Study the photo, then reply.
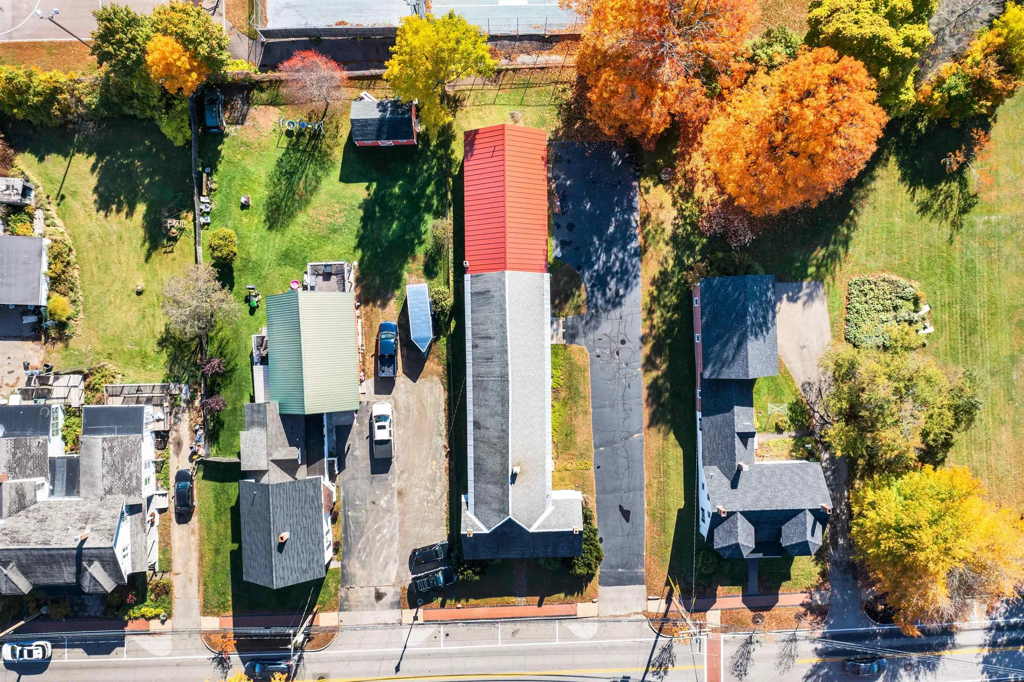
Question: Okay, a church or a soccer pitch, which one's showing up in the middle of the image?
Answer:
church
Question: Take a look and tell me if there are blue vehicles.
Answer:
Yes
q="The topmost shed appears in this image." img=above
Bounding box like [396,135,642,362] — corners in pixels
[350,100,416,147]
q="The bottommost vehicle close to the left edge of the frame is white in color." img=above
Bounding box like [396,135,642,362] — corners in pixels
[2,638,54,664]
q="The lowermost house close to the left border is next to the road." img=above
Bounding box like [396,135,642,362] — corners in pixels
[0,403,176,595]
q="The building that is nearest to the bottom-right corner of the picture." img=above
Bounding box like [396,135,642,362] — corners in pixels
[695,274,837,559]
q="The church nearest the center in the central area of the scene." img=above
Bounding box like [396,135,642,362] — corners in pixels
[461,123,584,559]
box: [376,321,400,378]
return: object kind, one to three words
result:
truck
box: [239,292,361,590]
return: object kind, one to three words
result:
building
